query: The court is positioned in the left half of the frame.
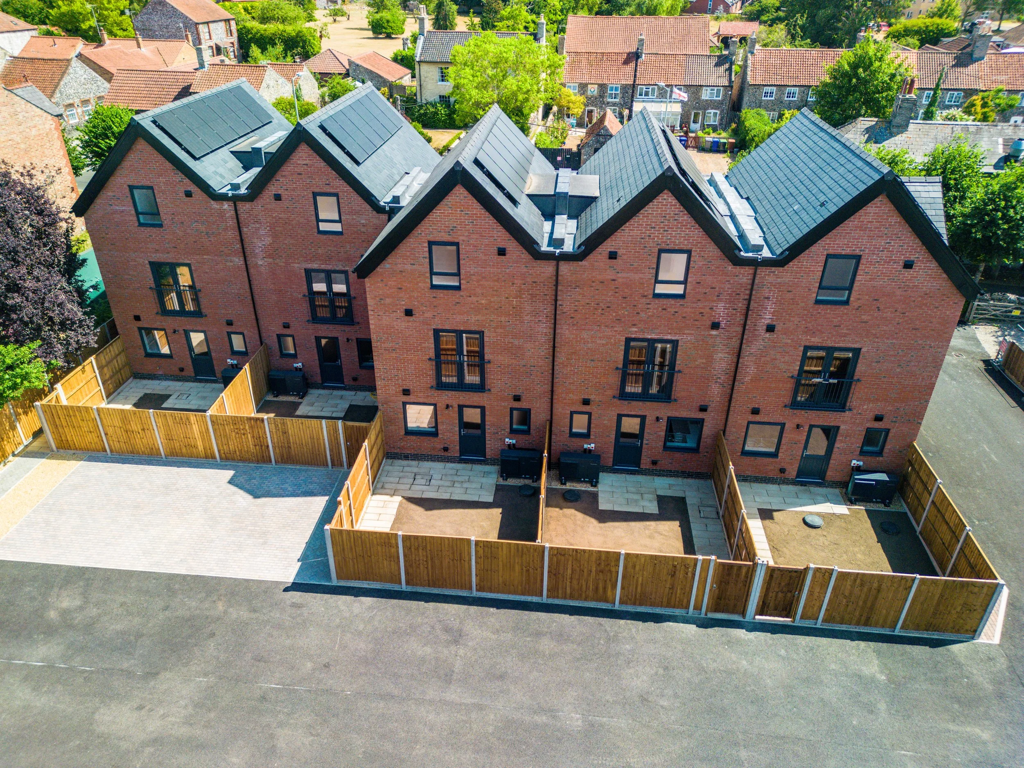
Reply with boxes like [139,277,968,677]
[34,254,111,351]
